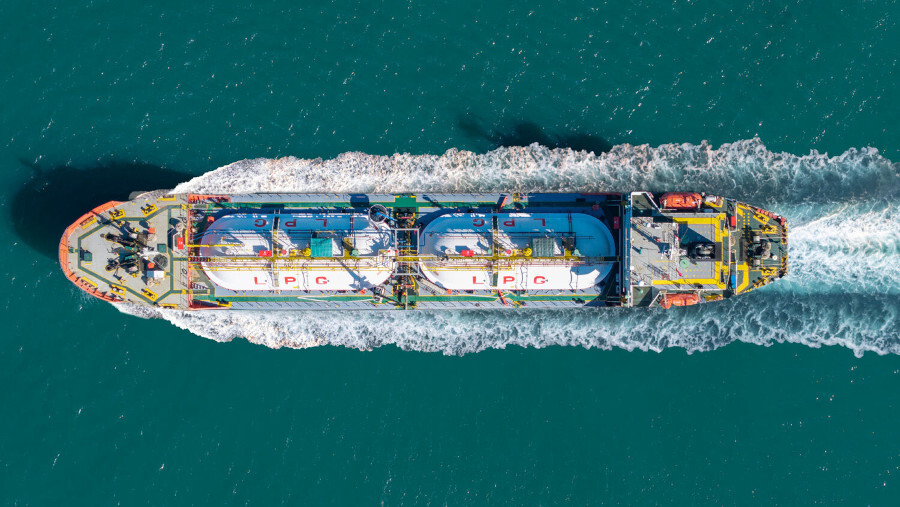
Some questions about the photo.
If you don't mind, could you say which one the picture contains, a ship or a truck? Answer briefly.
ship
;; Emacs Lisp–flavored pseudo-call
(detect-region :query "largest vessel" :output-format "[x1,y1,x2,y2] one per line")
[59,192,789,310]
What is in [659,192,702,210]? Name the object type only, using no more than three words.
boat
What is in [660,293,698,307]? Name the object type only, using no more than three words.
boat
